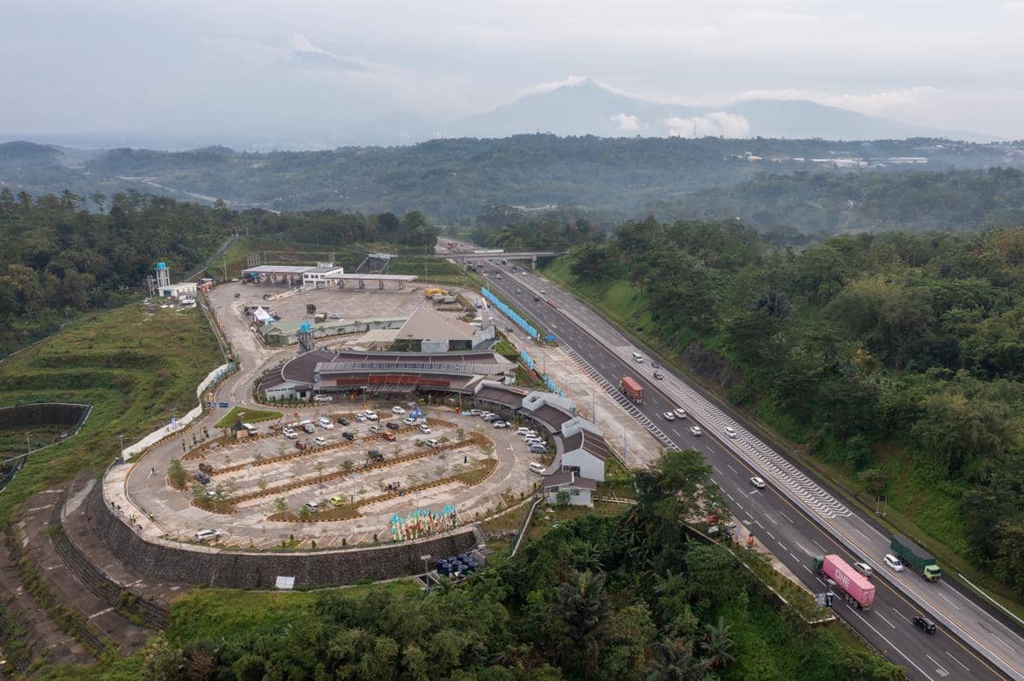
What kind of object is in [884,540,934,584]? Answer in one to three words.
truck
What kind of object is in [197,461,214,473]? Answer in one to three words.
vehicle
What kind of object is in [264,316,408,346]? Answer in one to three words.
building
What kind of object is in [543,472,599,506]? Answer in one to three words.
house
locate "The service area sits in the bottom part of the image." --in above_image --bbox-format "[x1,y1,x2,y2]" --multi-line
[105,263,842,619]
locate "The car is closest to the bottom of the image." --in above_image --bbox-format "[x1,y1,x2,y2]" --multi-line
[911,616,939,634]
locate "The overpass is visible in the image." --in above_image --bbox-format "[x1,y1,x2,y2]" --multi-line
[356,250,560,264]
